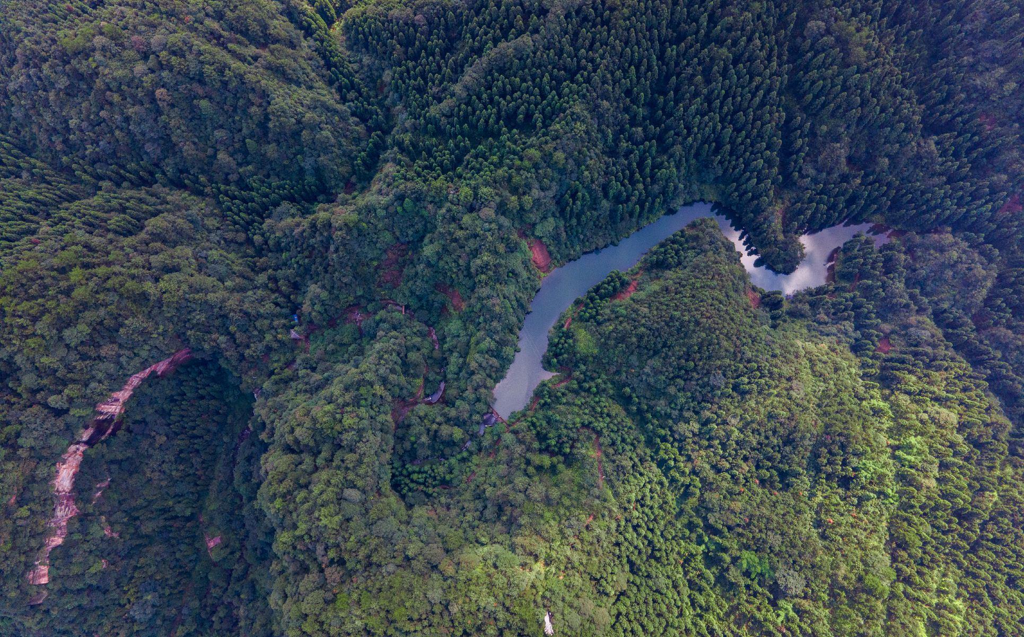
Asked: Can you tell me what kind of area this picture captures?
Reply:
forest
